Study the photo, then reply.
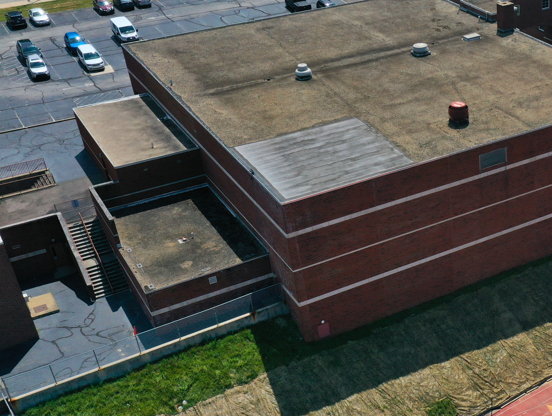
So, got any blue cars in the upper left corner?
Yes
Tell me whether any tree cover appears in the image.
No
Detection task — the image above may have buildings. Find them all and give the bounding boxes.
[0,235,40,352]
[121,0,552,342]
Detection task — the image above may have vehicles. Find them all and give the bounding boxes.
[113,0,134,11]
[27,10,49,26]
[3,11,27,29]
[23,55,50,80]
[66,32,89,54]
[76,45,105,71]
[91,0,114,15]
[131,0,151,8]
[108,16,137,43]
[18,40,45,60]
